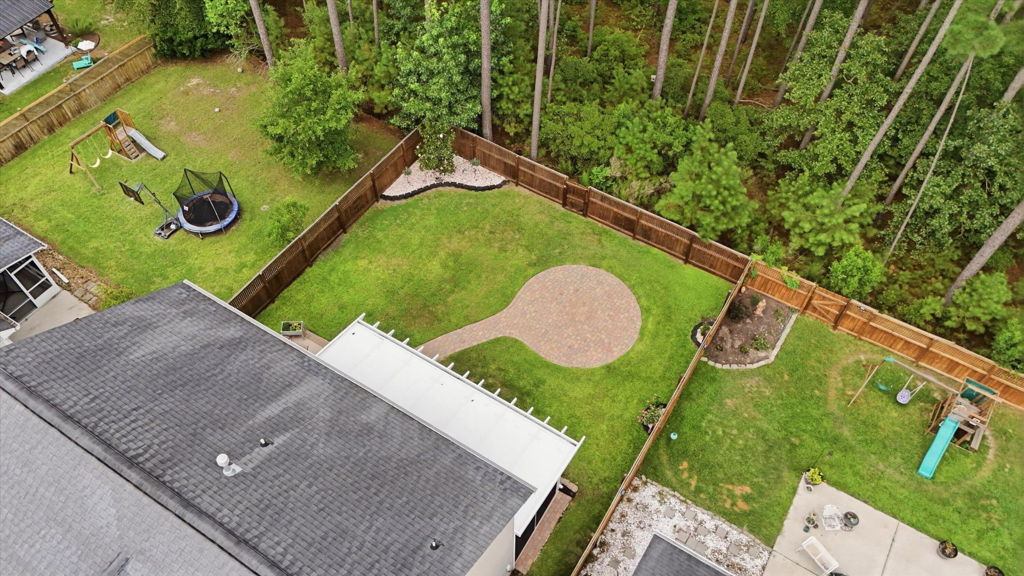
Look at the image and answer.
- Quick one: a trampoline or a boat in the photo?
trampoline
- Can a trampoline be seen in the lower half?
No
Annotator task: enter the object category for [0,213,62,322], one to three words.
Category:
house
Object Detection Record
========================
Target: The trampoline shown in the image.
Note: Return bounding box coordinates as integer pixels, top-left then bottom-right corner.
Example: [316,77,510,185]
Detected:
[173,169,241,241]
